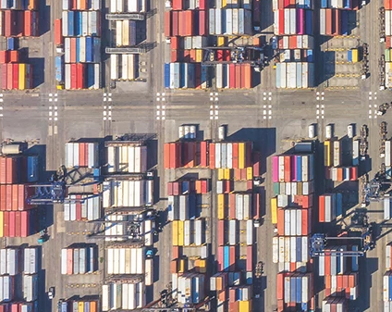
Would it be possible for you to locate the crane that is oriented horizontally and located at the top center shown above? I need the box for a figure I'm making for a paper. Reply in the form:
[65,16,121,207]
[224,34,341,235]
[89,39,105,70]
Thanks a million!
[202,43,265,68]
